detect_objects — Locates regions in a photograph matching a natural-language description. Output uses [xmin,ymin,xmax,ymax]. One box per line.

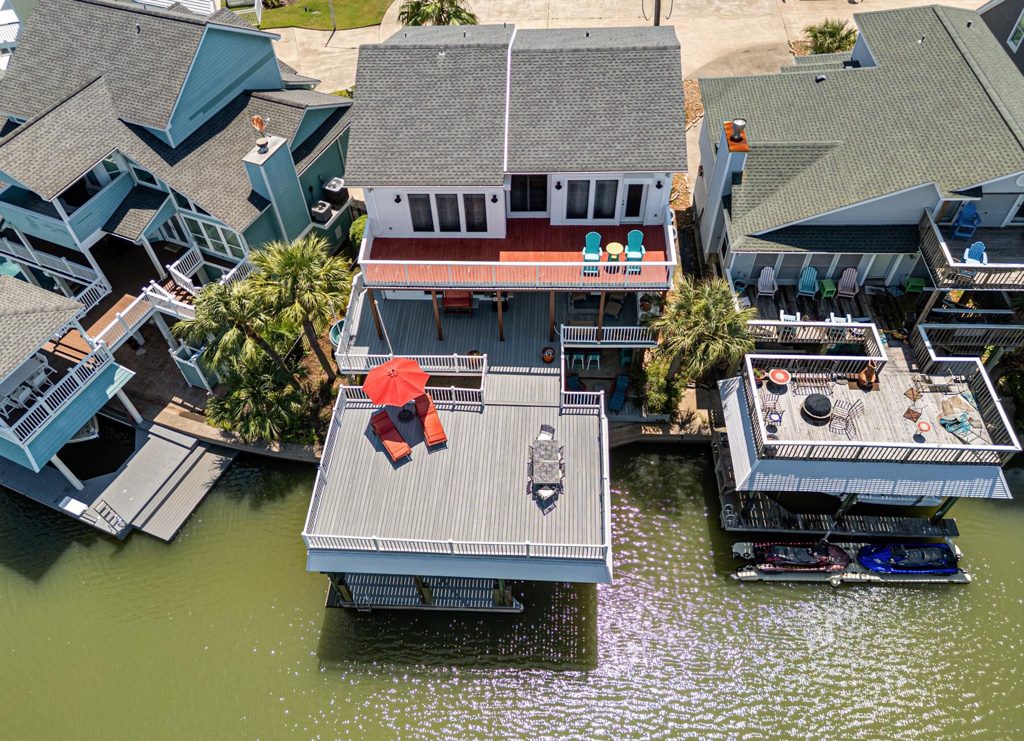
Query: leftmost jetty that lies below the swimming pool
[0,435,238,549]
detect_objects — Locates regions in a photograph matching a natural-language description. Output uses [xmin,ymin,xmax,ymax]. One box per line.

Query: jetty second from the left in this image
[325,549,524,623]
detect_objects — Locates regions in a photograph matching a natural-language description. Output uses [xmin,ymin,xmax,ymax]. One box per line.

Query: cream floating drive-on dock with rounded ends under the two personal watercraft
[730,545,971,591]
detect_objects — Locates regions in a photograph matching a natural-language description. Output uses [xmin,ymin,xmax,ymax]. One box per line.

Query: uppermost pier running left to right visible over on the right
[712,422,958,544]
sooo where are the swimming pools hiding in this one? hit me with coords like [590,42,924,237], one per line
[0,261,47,290]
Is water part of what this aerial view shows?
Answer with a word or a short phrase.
Yes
